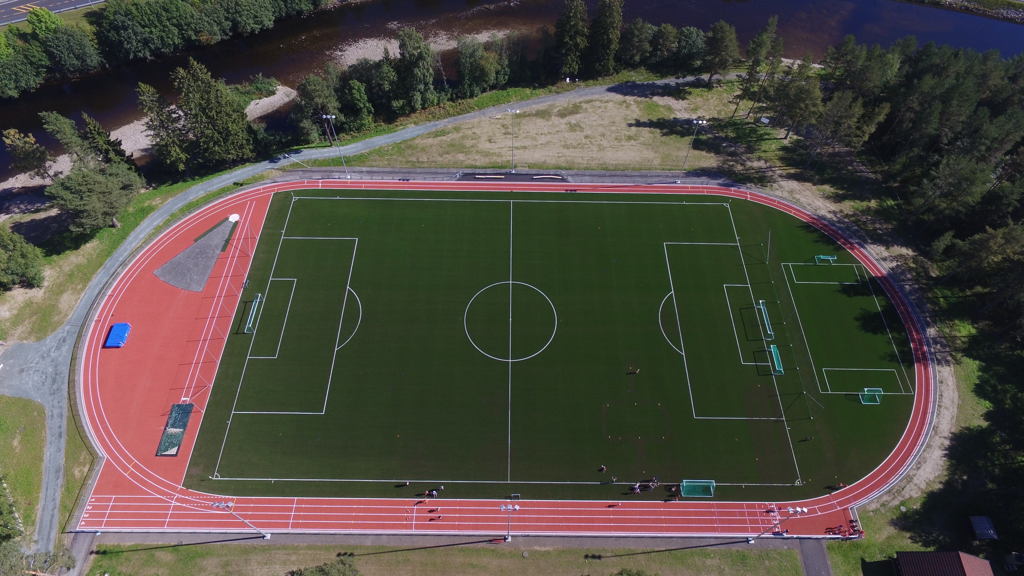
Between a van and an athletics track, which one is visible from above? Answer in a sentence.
Of the two, only an athletics track appears.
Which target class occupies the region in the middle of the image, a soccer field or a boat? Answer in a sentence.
It is a soccer field that can be seen in the middle of the image.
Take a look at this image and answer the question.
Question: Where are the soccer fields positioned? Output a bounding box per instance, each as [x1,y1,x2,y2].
[782,263,914,393]
[181,188,919,502]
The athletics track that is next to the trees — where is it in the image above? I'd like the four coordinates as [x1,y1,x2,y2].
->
[77,179,935,537]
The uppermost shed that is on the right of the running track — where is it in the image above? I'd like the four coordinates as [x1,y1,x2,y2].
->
[963,516,998,542]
